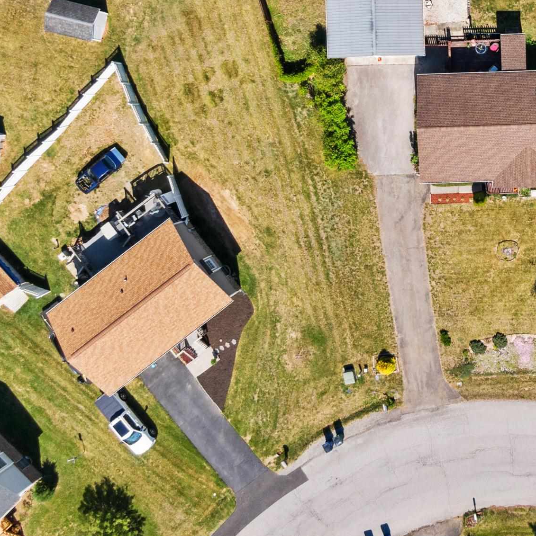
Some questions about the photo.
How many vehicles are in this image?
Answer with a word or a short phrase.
2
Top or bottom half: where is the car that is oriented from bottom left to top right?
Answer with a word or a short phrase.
top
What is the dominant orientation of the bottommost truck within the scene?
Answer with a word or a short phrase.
on a diagonal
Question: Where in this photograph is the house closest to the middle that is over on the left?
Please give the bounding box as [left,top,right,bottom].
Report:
[46,217,251,396]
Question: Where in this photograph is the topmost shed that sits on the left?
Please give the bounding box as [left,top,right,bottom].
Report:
[45,0,114,43]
